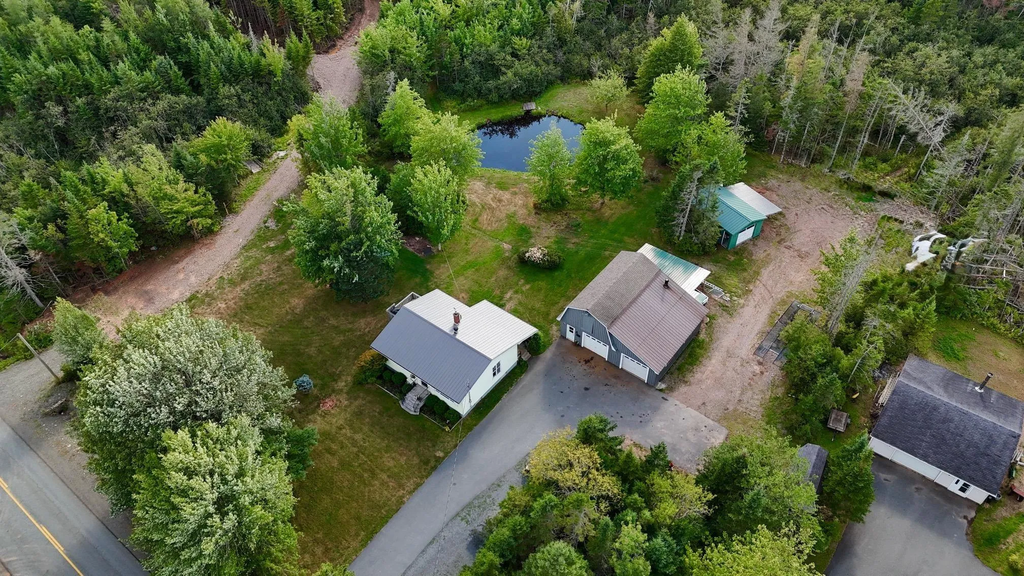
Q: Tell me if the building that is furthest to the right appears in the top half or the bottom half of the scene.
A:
bottom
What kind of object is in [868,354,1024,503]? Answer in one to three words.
building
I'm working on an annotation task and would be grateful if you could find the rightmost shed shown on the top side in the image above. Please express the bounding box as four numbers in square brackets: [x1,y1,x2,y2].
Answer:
[699,182,781,249]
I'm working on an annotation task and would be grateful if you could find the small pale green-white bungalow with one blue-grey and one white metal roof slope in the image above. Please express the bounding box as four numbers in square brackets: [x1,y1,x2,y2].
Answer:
[370,289,541,417]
